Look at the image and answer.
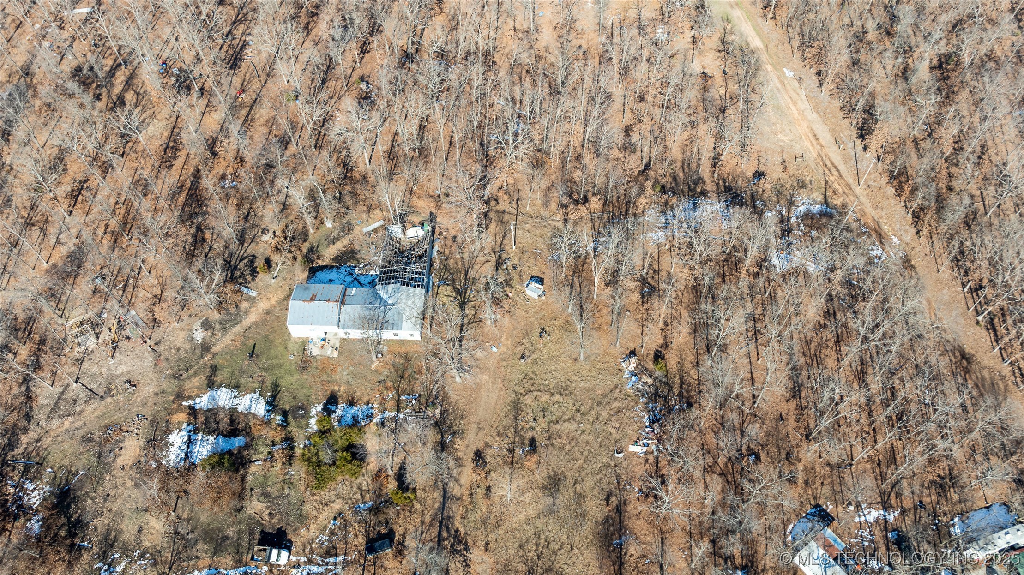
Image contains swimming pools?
No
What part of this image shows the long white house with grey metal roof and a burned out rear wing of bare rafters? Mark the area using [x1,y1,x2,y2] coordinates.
[285,224,435,340]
